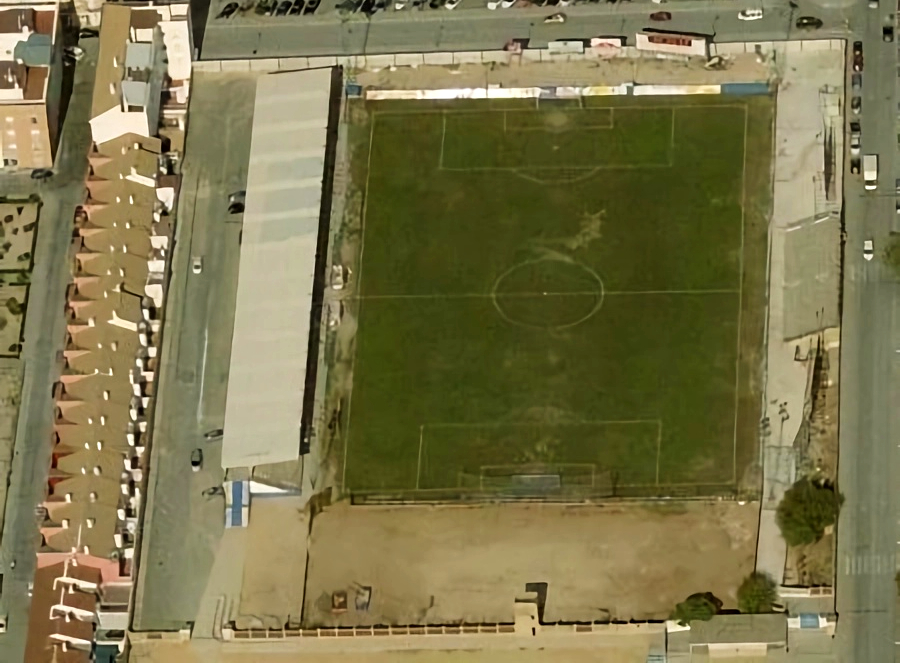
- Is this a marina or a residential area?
residential area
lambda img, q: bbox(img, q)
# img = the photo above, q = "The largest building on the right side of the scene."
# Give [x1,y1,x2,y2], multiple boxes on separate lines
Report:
[690,612,788,658]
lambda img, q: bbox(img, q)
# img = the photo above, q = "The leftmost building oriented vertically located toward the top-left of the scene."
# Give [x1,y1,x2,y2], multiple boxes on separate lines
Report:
[0,7,64,167]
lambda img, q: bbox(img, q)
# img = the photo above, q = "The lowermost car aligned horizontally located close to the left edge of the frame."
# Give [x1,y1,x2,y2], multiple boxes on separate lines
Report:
[27,167,54,179]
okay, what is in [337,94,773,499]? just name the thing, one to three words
soccer field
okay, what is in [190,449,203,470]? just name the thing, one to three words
vehicle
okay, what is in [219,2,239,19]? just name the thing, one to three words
car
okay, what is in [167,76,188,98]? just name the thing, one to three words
shed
